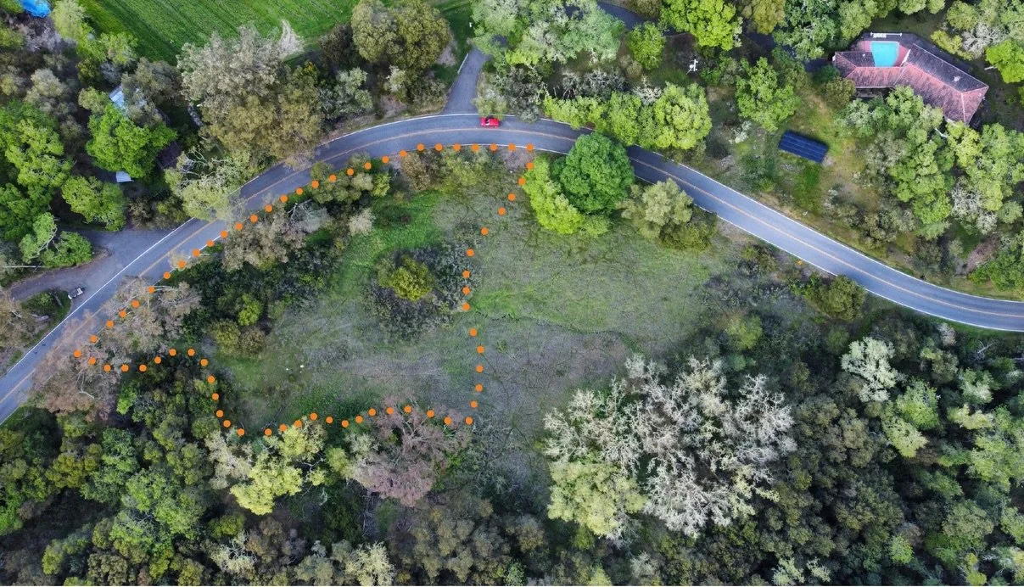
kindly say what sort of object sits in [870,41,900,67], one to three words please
swimming pool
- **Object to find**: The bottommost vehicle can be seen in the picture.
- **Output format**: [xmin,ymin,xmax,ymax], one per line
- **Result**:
[64,286,84,300]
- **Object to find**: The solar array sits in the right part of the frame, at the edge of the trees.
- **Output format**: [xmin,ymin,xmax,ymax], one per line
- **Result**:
[779,131,828,162]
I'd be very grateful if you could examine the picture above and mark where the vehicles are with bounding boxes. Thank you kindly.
[480,118,499,127]
[64,286,84,300]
